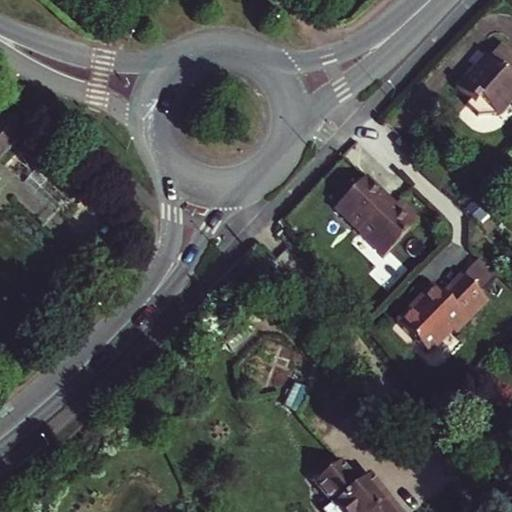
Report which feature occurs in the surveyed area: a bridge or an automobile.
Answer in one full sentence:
The one in the frame is an automobile.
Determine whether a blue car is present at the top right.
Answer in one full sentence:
No, the scene shows no blue car at the top right.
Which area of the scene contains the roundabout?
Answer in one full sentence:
The roundabout is located in the top region of the scene.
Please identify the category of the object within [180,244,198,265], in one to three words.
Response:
car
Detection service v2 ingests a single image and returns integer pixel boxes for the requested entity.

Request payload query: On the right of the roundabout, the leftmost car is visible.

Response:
[356,126,378,139]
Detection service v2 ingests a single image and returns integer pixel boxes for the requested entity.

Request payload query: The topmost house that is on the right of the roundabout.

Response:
[458,35,512,134]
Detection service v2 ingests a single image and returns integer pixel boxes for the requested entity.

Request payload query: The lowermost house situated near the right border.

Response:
[404,248,492,348]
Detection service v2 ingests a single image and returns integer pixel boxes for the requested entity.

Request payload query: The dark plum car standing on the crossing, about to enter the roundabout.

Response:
[204,210,224,229]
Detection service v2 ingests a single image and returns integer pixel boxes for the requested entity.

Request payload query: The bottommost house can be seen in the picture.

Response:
[318,460,404,512]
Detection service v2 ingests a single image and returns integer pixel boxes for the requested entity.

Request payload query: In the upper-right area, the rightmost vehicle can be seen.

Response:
[390,129,406,150]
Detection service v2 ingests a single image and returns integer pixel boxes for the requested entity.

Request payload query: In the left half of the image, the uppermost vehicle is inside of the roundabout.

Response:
[164,178,178,202]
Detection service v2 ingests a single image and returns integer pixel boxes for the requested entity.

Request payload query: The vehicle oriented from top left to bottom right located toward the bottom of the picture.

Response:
[398,488,417,508]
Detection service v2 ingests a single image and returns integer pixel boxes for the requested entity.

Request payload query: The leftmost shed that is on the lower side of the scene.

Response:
[284,382,304,410]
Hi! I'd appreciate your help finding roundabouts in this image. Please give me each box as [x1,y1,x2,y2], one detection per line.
[116,26,322,233]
